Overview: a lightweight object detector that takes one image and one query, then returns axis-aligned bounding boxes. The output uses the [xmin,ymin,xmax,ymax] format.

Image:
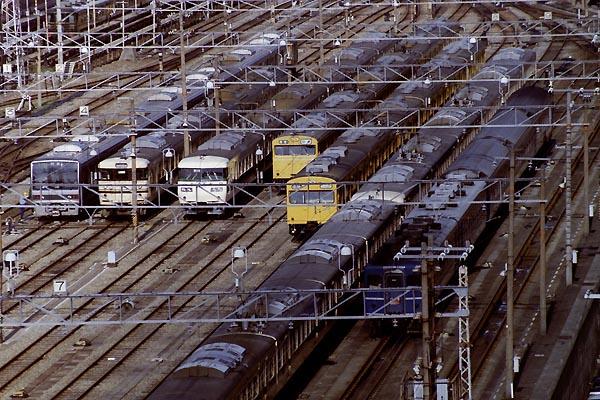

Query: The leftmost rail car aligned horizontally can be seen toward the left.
[89,111,171,143]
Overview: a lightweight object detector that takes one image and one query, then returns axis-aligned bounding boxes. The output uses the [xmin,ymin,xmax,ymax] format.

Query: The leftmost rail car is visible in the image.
[31,134,129,218]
